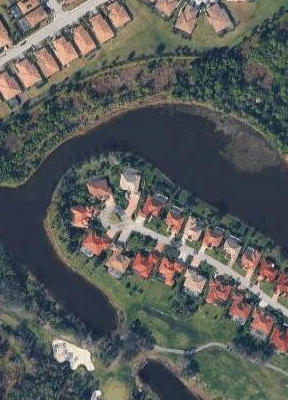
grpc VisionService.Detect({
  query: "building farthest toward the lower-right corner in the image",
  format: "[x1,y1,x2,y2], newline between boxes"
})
[269,326,288,354]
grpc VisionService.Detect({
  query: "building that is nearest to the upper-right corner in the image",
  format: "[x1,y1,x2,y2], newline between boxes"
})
[207,6,233,32]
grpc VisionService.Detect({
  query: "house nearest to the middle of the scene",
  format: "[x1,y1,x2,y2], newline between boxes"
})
[140,192,164,216]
